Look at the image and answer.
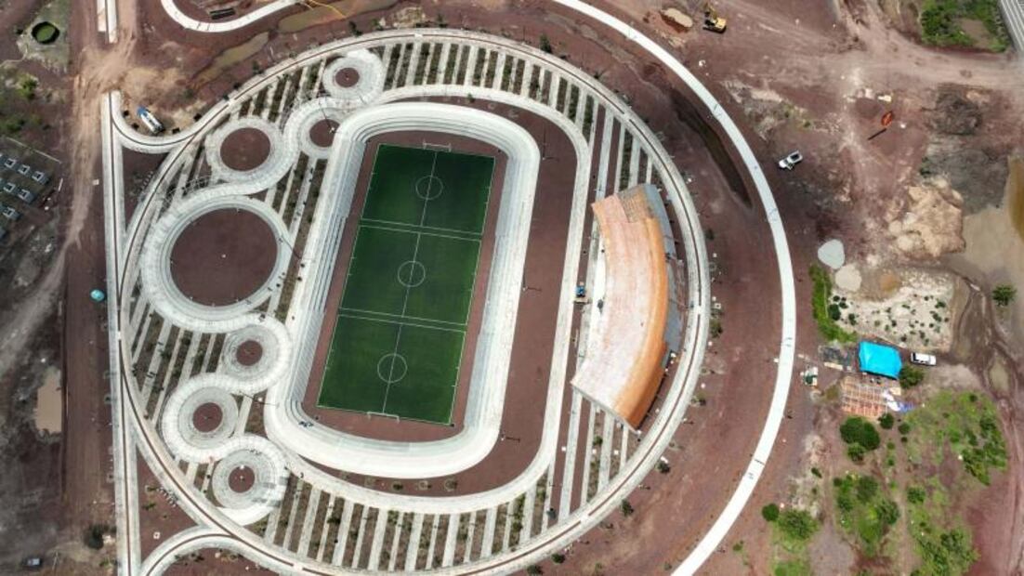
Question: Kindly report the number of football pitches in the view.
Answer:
3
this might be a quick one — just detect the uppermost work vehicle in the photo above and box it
[699,0,728,30]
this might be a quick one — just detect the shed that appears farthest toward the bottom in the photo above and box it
[803,363,825,386]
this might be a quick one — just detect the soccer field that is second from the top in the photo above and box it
[339,222,483,331]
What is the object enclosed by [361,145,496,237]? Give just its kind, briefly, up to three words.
soccer field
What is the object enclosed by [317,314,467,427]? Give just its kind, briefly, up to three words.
soccer field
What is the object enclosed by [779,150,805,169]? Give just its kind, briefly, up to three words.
vehicle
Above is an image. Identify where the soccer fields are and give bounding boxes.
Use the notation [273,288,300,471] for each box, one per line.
[339,222,483,331]
[317,314,467,427]
[361,145,496,237]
